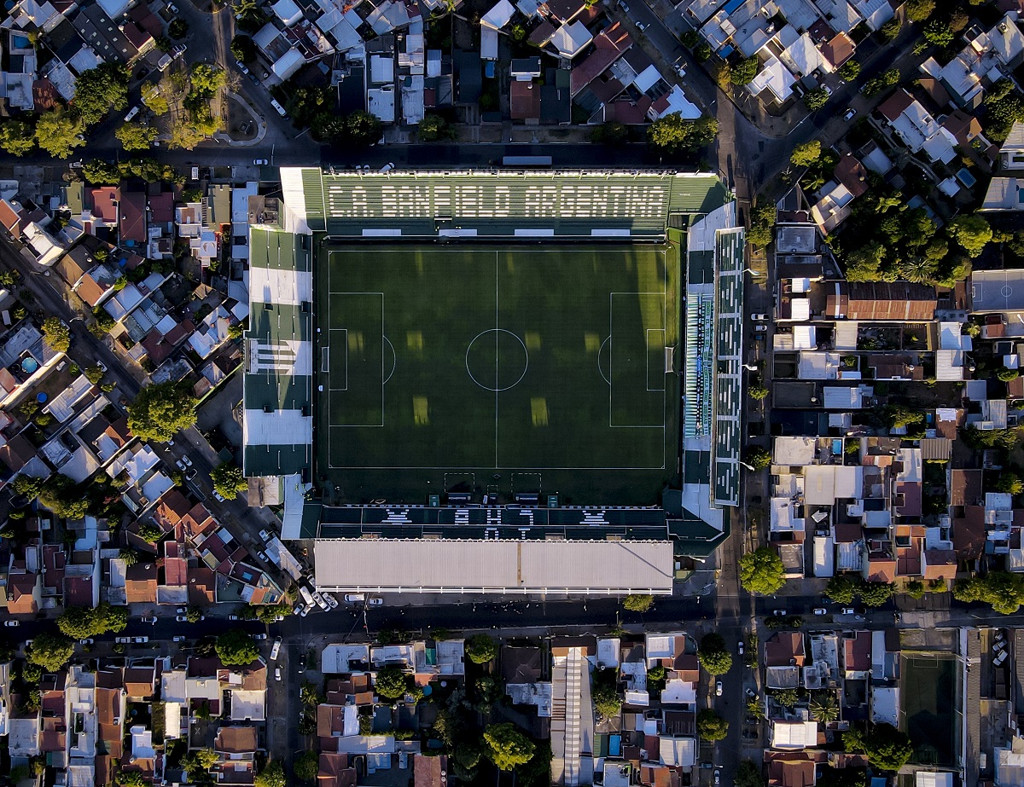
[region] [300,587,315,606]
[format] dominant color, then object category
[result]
white vehicle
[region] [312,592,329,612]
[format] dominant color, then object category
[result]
white vehicle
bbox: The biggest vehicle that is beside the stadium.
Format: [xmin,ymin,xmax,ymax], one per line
[502,156,552,168]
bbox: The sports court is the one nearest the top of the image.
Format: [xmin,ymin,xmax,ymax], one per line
[969,269,1024,312]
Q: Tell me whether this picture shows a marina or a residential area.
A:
residential area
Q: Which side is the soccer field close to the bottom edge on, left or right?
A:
right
